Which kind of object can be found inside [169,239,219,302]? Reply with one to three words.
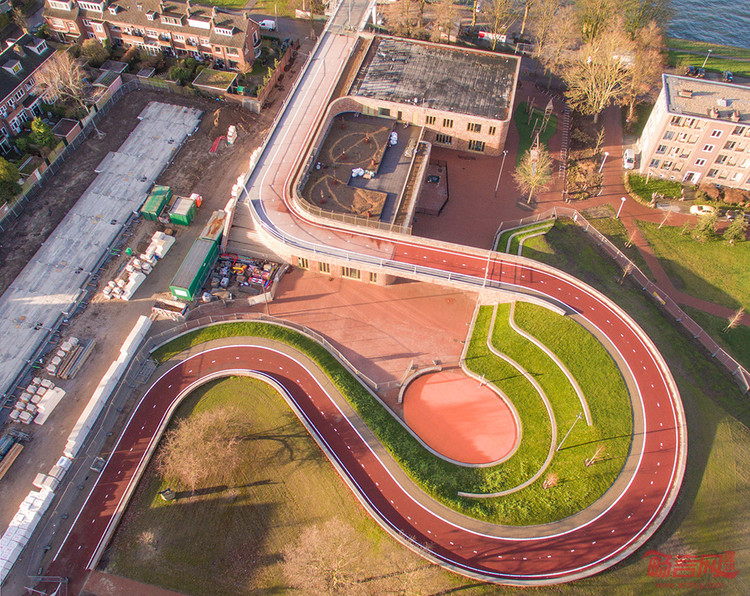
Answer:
building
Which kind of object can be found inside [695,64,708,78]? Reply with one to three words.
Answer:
vehicle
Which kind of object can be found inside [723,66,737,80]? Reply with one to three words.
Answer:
vehicle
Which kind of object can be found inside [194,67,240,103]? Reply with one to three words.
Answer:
shed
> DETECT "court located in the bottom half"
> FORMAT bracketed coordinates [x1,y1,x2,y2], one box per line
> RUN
[404,370,516,464]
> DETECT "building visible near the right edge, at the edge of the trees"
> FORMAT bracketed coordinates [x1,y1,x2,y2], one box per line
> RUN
[641,77,750,191]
